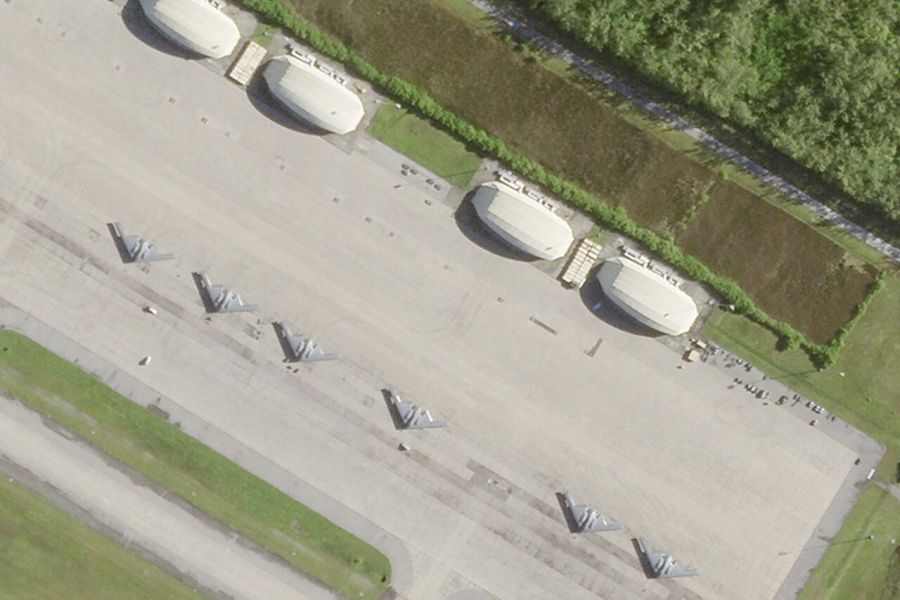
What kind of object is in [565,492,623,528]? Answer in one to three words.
airplane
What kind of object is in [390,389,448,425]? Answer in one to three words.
airplane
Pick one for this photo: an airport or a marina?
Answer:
airport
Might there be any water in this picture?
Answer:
No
